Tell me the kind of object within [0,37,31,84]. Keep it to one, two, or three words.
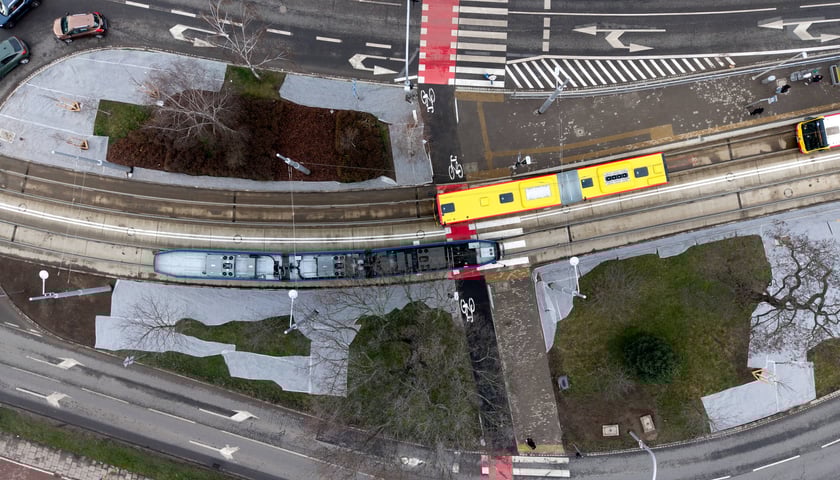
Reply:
car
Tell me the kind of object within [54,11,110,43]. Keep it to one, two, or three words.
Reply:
car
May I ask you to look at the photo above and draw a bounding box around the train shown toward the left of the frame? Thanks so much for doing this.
[156,237,502,280]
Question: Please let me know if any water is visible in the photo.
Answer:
No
